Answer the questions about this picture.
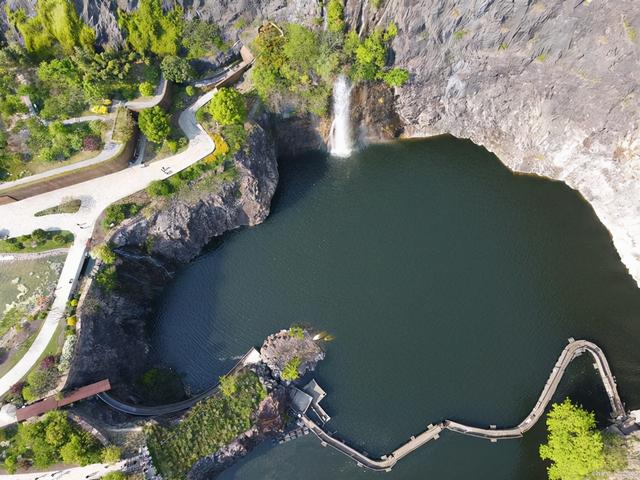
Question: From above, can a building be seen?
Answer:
No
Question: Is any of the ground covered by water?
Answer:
Yes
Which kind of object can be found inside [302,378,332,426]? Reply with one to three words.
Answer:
pier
